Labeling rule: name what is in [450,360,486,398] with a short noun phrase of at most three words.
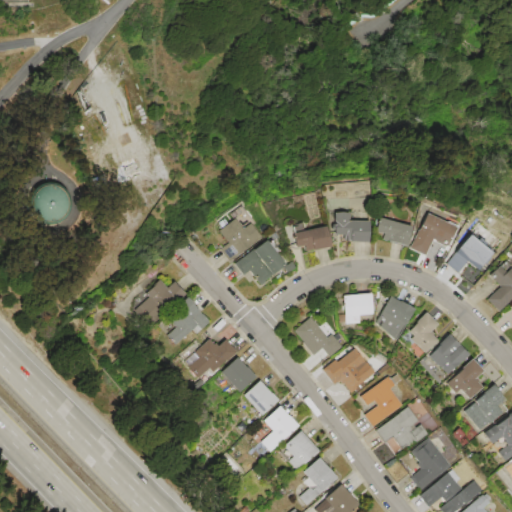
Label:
house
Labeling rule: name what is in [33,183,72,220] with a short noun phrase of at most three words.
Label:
water tank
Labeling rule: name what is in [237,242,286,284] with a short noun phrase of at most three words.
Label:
house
